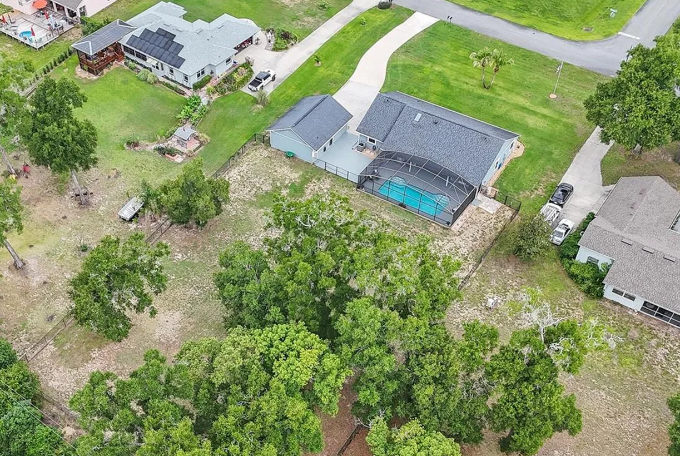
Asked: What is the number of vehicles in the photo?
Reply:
4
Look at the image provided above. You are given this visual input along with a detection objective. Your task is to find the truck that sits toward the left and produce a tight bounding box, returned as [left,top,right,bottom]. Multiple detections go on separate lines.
[245,71,280,94]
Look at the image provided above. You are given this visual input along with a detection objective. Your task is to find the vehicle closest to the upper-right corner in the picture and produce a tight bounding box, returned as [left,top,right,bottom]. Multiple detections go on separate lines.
[551,179,573,209]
